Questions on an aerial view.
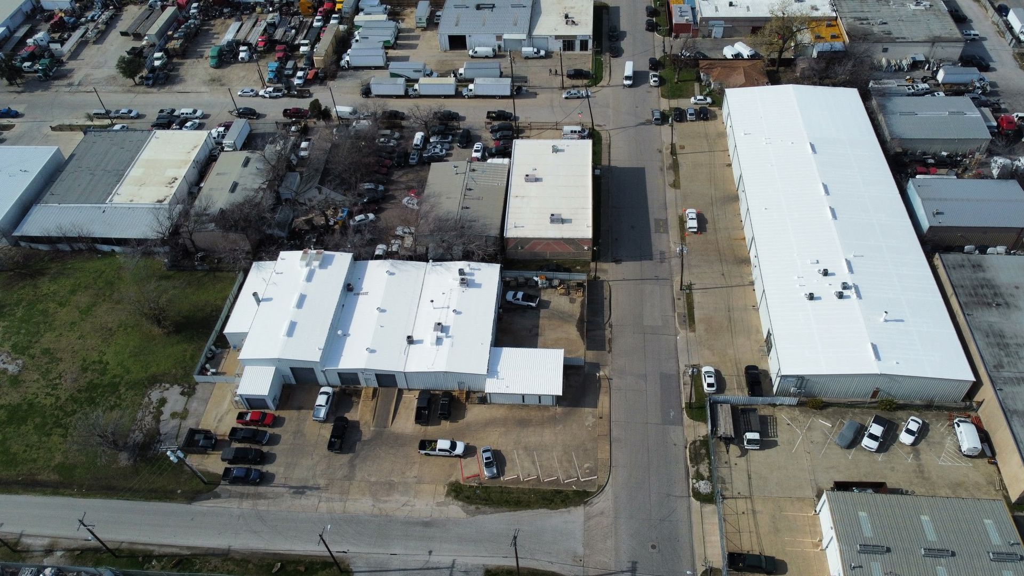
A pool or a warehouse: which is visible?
warehouse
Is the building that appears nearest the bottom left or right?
right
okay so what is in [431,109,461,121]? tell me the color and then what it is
black vehicle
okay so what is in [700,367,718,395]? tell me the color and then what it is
white car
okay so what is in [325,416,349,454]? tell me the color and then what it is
black truck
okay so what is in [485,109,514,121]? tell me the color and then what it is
black vehicle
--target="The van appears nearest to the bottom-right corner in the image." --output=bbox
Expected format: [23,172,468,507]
[954,419,983,456]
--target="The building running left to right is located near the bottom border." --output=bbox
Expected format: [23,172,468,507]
[819,491,1024,576]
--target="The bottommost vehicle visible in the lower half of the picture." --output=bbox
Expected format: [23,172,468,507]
[725,551,778,574]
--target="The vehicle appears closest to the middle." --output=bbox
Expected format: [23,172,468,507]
[503,291,541,309]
